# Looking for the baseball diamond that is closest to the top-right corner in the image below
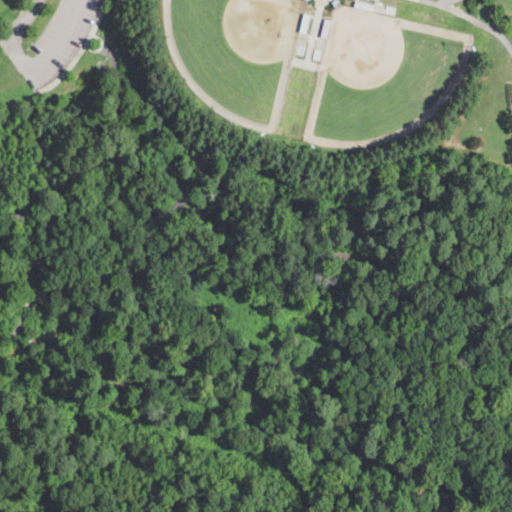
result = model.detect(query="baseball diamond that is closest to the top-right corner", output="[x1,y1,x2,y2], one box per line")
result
[305,8,474,150]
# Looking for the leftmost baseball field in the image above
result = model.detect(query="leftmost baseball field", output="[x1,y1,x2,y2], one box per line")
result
[163,0,306,134]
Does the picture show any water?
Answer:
No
